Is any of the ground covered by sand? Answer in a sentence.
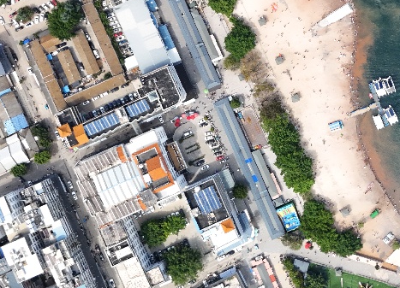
Yes, the picture does contain sand.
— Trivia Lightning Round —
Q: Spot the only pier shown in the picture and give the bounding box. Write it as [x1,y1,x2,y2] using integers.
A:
[349,83,389,126]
